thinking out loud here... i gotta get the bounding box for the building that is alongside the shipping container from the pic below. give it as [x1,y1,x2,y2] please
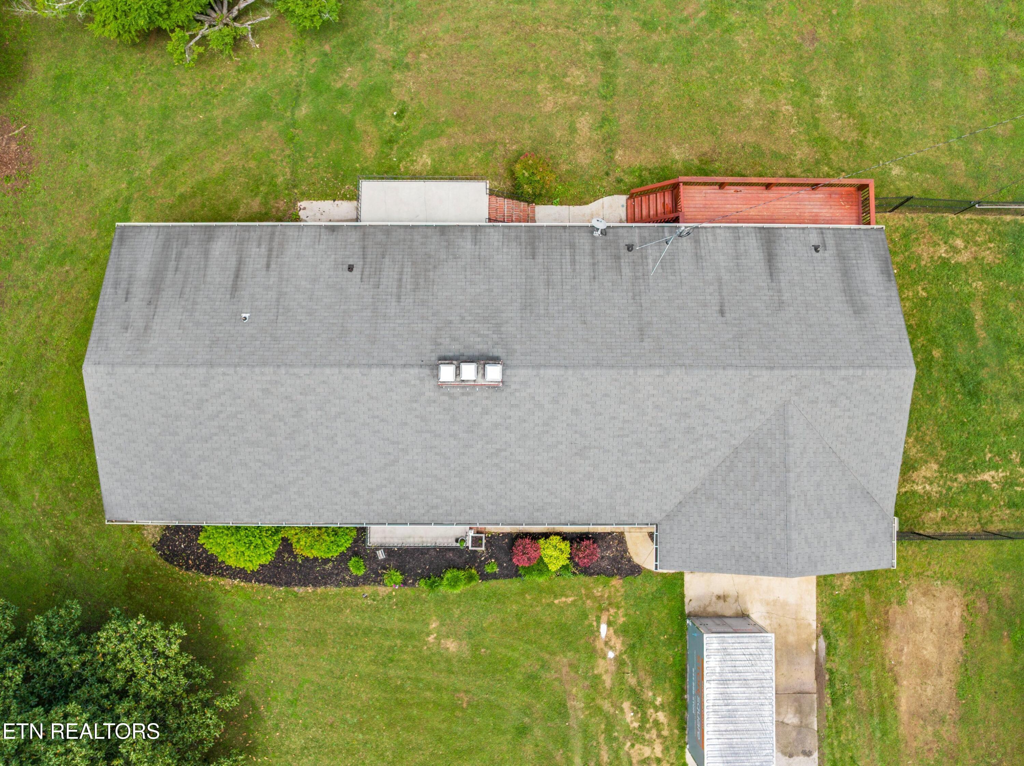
[82,222,916,578]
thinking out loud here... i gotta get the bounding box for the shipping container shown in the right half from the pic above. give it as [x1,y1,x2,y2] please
[687,617,775,766]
